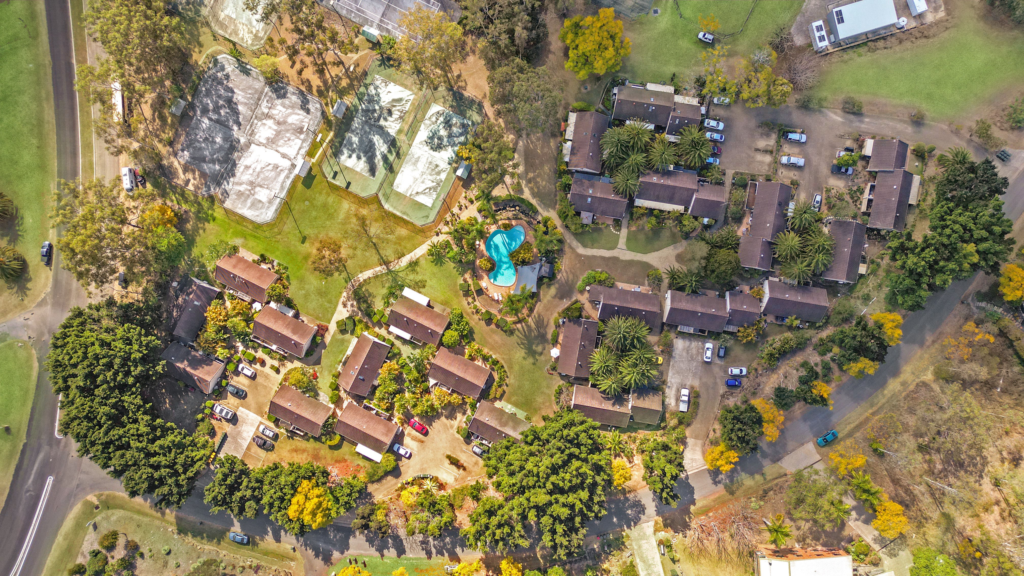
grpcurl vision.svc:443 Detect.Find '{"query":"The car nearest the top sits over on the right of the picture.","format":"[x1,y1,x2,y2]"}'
[697,32,714,44]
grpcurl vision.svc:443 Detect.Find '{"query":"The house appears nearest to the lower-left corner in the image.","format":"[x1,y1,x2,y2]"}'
[160,342,227,395]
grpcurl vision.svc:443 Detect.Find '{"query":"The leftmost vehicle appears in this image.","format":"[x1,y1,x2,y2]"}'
[41,243,53,264]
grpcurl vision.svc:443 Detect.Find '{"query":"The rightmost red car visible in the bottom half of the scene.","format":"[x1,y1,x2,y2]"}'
[410,418,428,435]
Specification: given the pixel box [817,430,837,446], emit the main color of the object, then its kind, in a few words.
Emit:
blue car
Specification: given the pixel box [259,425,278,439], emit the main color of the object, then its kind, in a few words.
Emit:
white car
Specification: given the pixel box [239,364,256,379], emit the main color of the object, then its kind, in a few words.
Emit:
white car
